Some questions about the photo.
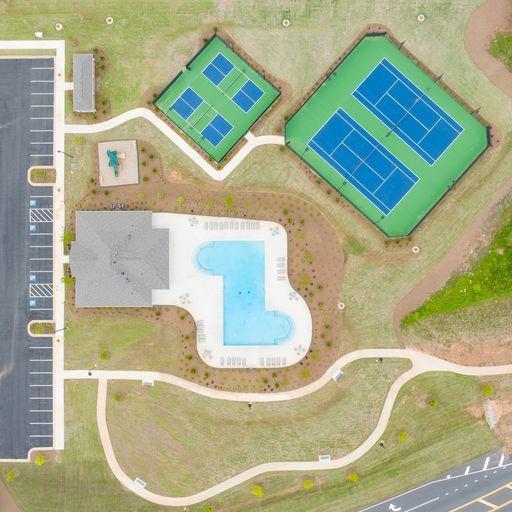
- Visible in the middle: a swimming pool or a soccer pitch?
swimming pool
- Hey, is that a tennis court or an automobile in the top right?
tennis court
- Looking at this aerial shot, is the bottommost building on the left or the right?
left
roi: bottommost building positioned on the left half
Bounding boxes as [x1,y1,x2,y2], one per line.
[68,211,170,306]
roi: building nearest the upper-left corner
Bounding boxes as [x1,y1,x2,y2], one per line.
[72,54,96,114]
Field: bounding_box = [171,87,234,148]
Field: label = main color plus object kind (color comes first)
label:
blue sports court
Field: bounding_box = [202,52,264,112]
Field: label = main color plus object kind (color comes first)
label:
blue sports court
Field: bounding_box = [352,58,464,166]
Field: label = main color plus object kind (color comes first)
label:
blue tennis court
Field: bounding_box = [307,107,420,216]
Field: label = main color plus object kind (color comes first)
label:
blue tennis court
